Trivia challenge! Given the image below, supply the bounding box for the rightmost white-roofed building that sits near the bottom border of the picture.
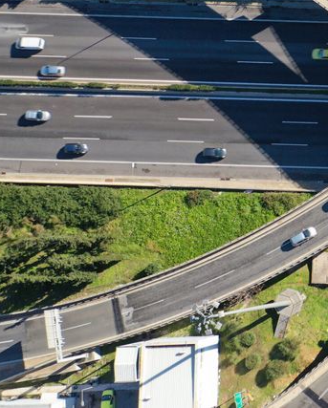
[139,332,233,408]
